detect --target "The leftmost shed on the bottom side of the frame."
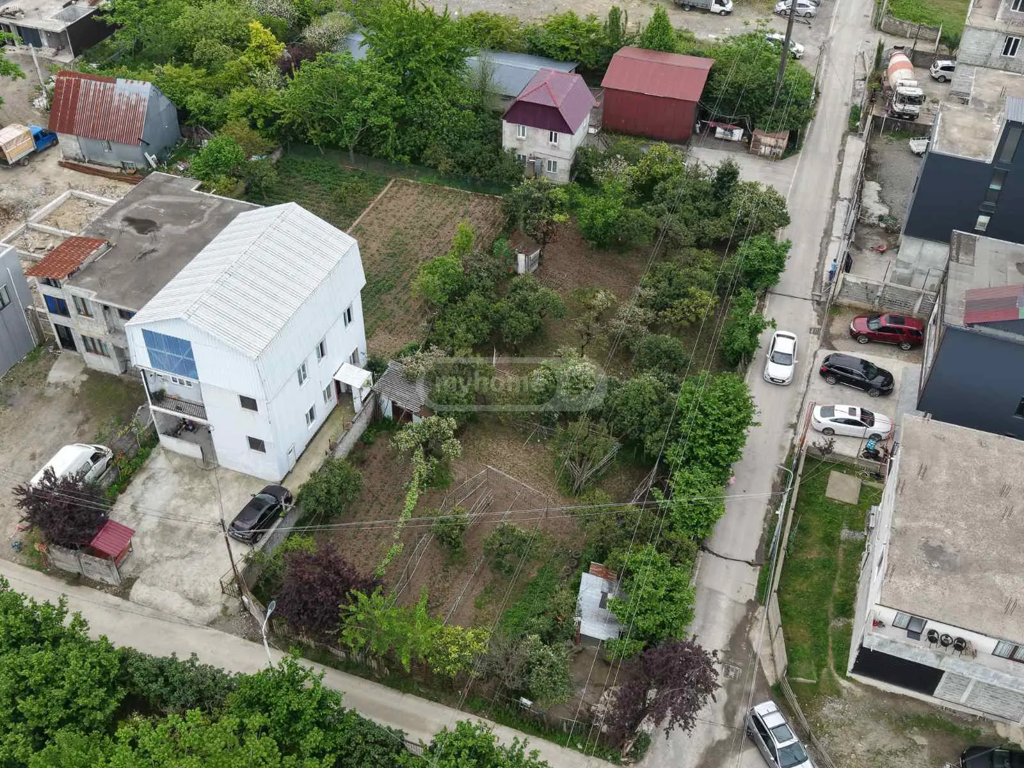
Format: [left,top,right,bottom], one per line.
[80,516,133,569]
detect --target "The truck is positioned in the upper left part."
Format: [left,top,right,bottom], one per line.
[0,118,56,166]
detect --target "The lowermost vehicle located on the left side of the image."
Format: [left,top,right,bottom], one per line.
[220,479,295,547]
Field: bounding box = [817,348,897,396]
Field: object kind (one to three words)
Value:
car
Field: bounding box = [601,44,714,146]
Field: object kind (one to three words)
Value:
barn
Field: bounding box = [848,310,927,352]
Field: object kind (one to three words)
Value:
car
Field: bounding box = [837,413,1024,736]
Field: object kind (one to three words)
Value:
house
